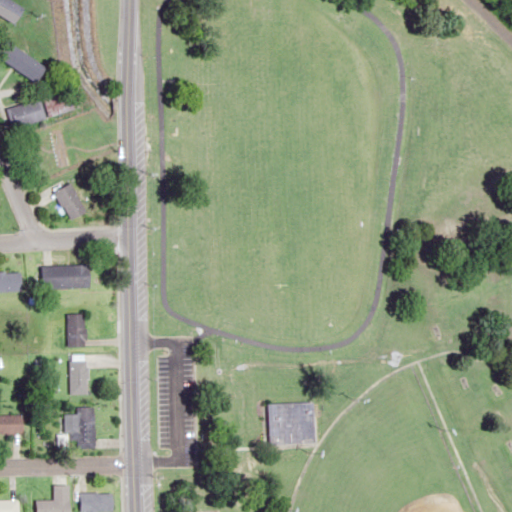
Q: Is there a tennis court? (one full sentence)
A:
No, no tennis court can be seen from above.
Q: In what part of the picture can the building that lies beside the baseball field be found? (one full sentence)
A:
You can find the building that lies beside the baseball field in the bottom area of the picture.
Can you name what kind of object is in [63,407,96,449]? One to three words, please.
house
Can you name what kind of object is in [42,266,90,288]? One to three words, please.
house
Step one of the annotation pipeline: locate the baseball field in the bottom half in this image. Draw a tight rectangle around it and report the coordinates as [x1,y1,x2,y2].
[292,364,480,512]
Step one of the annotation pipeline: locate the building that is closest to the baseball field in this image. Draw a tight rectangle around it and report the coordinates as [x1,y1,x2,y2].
[266,402,315,446]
